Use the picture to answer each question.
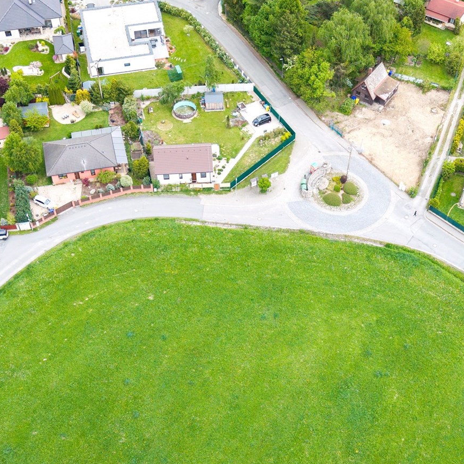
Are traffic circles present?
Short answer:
Yes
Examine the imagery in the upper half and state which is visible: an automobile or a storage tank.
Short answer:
automobile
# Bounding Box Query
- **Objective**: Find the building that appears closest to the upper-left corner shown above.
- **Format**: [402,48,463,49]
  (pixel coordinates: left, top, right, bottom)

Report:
[0,0,66,50]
